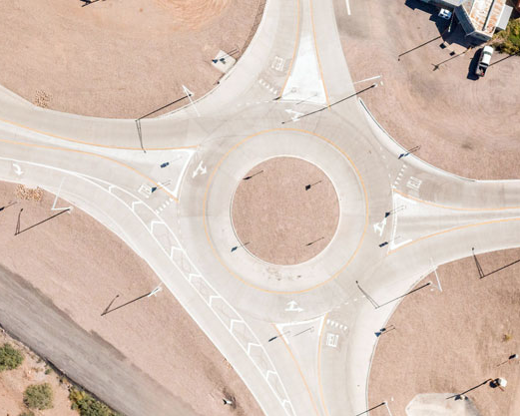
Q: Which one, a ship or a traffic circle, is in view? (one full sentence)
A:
It is a traffic circle that can be seen here.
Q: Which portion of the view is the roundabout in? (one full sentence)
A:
The roundabout is in the center part of the image.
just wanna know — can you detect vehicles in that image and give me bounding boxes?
[437,10,452,22]
[477,47,494,76]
